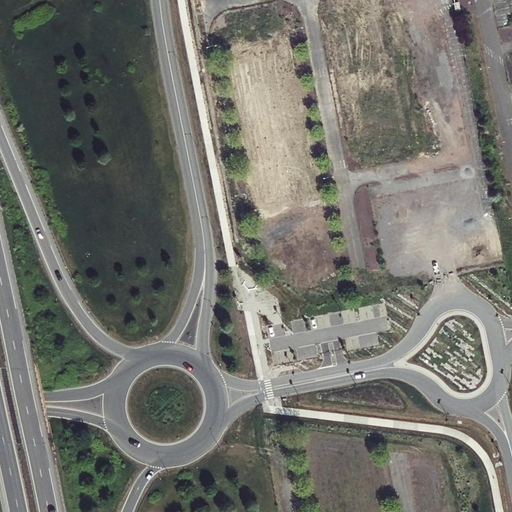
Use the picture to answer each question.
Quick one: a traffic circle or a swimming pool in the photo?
traffic circle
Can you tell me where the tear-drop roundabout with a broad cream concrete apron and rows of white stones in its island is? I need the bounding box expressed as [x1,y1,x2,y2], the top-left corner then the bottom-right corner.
[374,274,512,498]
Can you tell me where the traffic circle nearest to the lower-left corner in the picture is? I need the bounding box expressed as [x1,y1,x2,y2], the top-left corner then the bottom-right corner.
[103,342,228,468]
